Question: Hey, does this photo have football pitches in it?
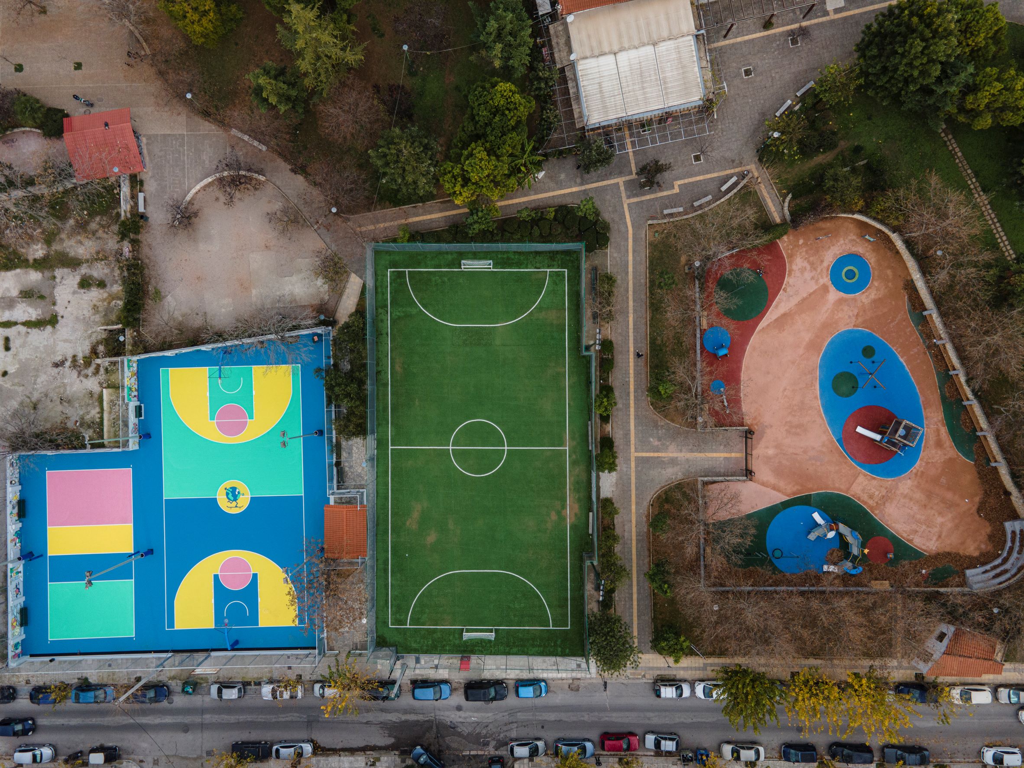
Yes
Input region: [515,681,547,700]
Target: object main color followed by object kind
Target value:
blue car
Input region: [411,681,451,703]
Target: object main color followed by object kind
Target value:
blue car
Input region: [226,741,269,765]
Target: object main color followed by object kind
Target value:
black car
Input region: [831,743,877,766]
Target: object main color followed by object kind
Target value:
black car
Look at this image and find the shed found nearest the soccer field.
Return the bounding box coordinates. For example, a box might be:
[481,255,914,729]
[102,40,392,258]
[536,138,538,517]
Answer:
[324,503,370,559]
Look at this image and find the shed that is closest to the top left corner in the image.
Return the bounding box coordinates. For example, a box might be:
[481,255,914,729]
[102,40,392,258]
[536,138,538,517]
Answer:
[63,107,151,184]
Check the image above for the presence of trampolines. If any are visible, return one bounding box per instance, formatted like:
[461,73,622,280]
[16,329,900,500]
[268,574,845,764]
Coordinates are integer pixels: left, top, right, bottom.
[843,267,859,283]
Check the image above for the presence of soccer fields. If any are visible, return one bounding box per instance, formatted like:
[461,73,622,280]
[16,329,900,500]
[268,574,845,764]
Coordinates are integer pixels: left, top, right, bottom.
[374,251,593,656]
